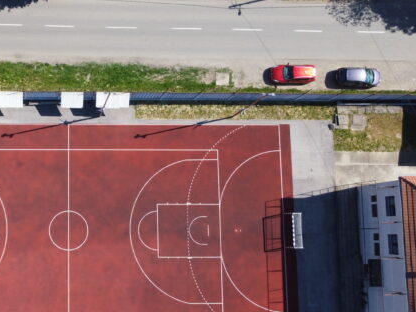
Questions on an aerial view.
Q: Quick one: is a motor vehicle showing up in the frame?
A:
Yes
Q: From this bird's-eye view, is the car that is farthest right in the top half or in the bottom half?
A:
top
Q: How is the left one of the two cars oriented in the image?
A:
horizontally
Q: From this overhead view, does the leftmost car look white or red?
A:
red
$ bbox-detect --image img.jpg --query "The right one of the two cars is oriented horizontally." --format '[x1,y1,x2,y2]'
[334,65,380,86]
